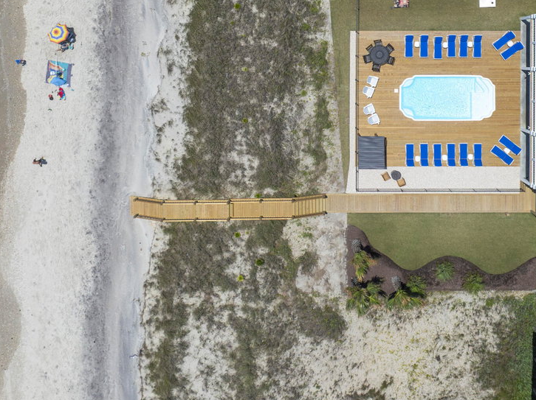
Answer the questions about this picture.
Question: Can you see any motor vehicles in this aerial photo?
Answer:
No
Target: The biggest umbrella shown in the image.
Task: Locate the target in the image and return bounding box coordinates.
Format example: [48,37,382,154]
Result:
[44,20,67,45]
